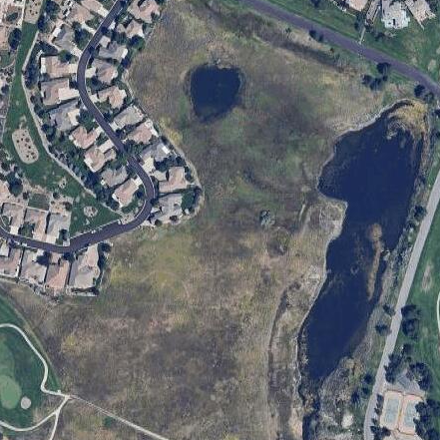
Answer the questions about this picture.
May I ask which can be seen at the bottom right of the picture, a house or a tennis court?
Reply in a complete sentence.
The one visible at the bottom right of the picture is a tennis court.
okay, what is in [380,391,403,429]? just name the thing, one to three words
tennis court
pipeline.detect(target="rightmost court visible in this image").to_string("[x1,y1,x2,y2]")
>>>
[399,394,424,434]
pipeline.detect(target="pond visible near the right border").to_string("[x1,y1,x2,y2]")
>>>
[295,102,430,398]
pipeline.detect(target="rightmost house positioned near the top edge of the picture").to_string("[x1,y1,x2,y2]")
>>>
[405,0,436,25]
